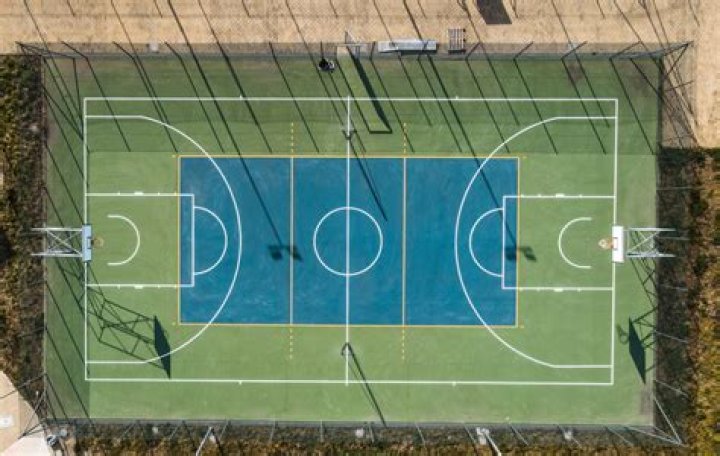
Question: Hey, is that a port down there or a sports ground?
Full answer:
The area seen from above is a sports ground.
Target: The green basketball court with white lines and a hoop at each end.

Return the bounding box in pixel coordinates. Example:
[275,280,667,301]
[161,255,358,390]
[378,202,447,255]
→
[45,58,659,424]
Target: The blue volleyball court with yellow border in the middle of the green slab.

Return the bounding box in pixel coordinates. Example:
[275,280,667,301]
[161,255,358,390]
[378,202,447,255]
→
[173,124,525,358]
